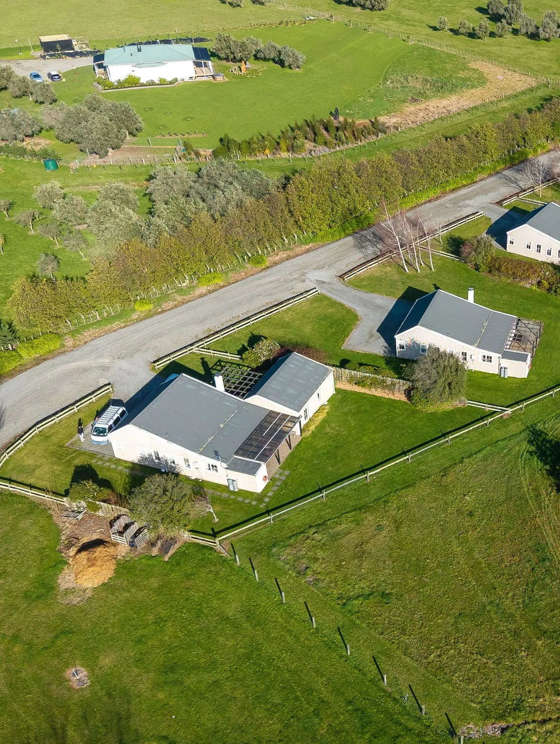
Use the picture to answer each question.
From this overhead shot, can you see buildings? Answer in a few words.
Yes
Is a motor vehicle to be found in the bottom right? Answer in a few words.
No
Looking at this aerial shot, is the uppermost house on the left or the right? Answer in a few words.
left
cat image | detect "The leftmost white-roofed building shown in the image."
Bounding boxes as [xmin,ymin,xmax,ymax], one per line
[94,43,215,82]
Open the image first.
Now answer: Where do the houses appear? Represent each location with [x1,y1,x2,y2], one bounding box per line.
[107,352,334,492]
[394,283,546,378]
[507,201,560,263]
[94,43,215,82]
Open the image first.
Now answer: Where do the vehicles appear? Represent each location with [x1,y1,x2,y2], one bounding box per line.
[31,69,43,81]
[89,403,128,445]
[47,69,60,81]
